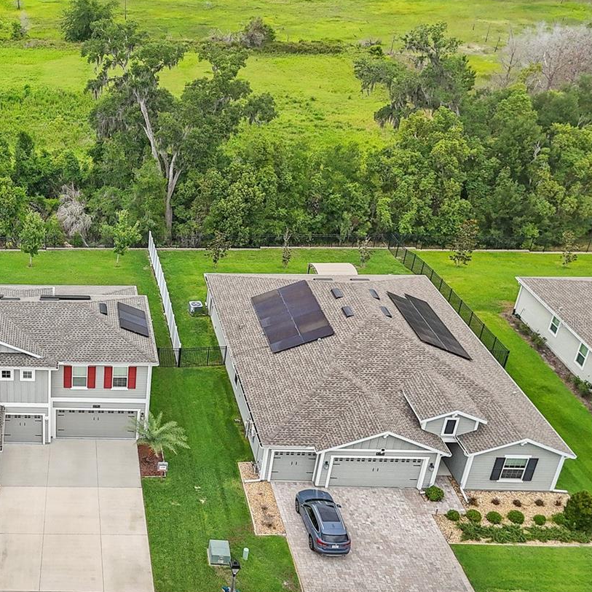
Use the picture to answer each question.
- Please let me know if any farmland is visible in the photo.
No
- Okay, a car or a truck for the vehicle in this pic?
car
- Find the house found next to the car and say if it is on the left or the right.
right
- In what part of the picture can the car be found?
bottom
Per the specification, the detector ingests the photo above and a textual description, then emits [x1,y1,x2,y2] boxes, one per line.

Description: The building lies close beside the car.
[202,273,578,501]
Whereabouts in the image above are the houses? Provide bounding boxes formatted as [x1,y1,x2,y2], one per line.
[0,282,159,462]
[510,277,592,386]
[202,273,578,501]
